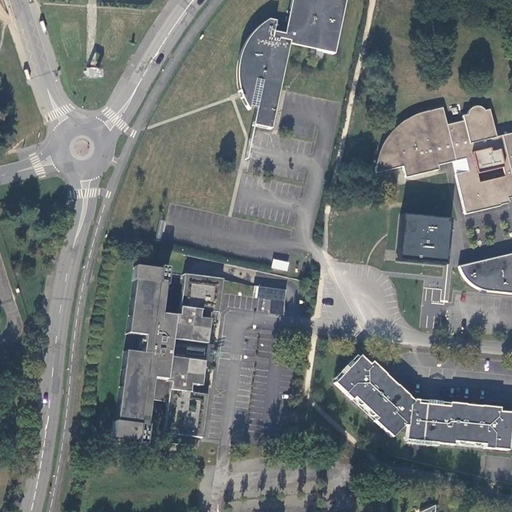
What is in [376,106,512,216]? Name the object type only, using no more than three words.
building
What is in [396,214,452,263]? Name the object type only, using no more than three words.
building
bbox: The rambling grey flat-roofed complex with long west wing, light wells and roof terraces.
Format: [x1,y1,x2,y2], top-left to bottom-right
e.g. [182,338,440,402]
[114,264,224,442]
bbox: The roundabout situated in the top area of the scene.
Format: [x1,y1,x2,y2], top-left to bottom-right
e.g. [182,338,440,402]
[18,104,126,189]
